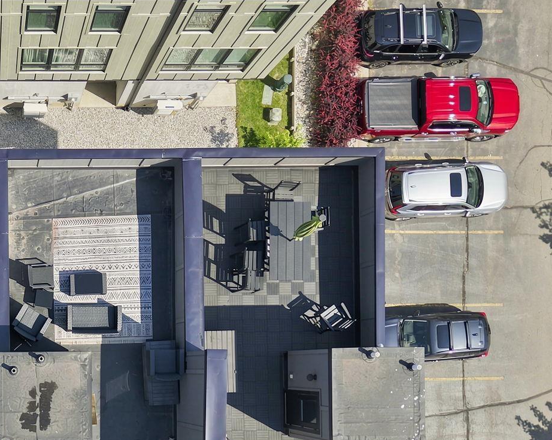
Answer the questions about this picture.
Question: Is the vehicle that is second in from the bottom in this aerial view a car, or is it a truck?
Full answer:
It looks like the vehicle that is second in from the bottom is a car.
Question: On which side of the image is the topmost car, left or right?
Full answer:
The topmost car appears in the right half of the scene.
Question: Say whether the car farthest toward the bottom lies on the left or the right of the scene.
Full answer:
You can find the car farthest toward the bottom on the right side of the picture.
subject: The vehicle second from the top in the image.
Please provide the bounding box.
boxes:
[354,72,518,141]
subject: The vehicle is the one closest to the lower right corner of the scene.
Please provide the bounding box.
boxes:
[384,305,493,360]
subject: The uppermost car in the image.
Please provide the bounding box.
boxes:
[354,2,483,68]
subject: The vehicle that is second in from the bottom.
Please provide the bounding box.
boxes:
[383,156,506,217]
